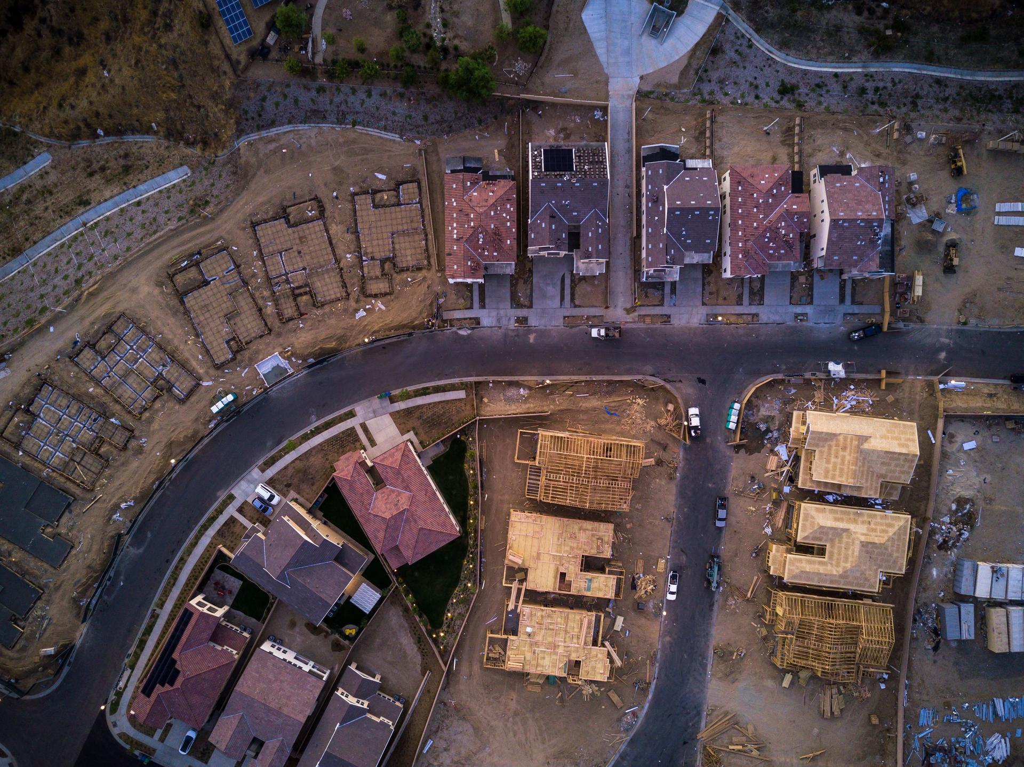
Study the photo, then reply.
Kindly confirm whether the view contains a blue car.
Yes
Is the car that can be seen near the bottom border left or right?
left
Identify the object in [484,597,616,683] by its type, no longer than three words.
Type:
house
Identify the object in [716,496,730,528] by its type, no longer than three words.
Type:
vehicle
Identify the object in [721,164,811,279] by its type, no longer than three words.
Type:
house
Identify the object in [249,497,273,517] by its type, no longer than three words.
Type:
car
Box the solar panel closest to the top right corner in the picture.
[543,148,574,170]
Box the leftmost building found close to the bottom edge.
[130,593,255,730]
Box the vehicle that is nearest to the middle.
[591,326,623,341]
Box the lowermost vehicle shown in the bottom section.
[176,731,196,759]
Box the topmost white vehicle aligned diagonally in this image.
[254,482,280,506]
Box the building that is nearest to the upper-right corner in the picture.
[811,164,895,279]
